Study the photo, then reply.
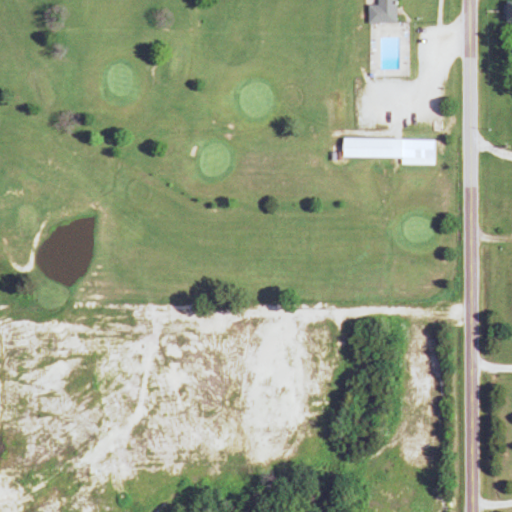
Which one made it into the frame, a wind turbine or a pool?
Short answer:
pool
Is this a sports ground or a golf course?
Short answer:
golf course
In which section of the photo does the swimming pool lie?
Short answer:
top right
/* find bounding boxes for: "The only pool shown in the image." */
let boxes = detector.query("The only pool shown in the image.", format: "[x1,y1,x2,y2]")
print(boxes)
[370,23,410,78]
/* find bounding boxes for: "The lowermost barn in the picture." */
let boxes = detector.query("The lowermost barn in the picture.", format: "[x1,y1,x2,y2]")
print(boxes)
[344,138,436,166]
